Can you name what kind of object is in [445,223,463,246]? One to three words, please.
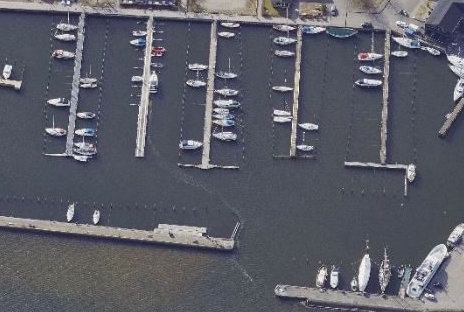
boat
